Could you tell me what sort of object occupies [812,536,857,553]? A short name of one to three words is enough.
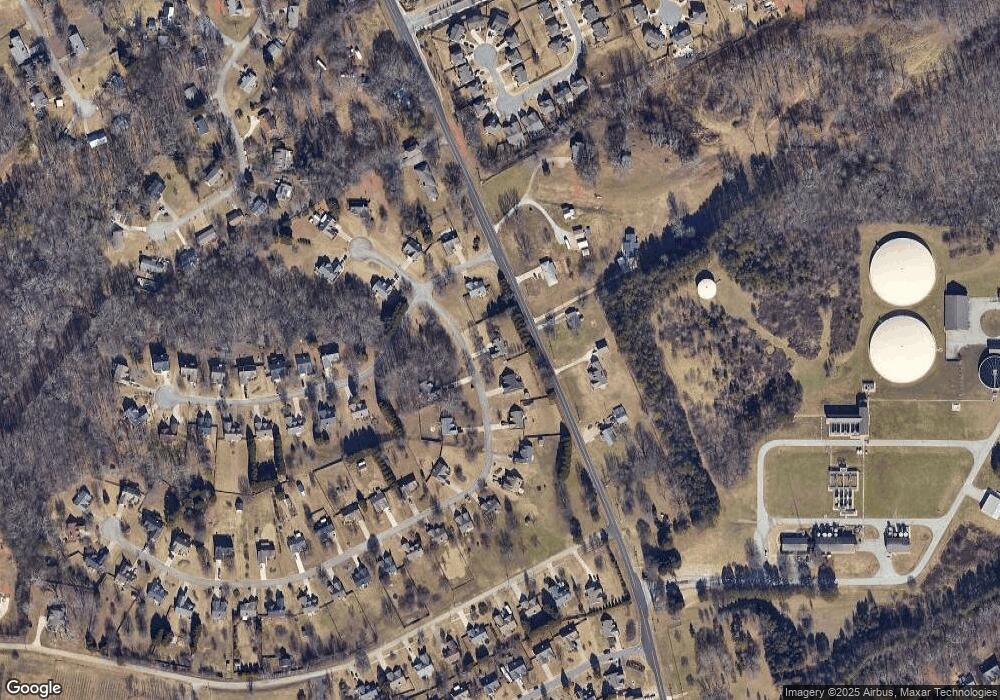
building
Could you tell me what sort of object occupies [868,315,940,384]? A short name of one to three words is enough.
storage tank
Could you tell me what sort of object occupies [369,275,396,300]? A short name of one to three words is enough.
house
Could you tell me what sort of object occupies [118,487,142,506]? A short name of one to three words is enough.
house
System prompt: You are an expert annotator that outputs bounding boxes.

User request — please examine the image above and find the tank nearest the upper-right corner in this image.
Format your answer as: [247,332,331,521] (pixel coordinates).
[868,237,937,306]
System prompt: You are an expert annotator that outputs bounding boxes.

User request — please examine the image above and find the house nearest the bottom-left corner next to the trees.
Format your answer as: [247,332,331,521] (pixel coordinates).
[45,608,72,630]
